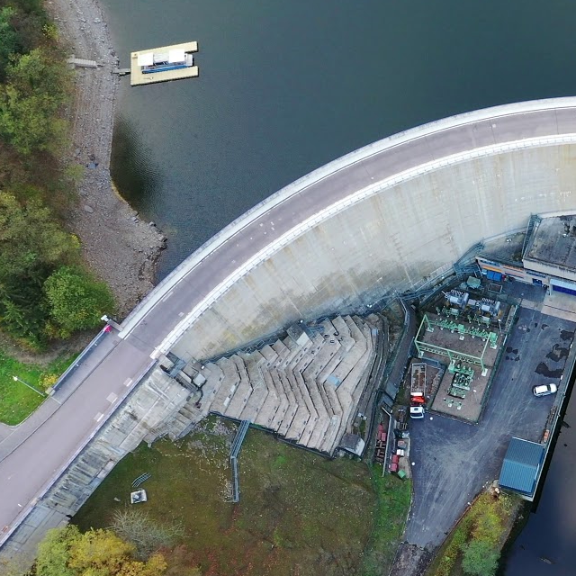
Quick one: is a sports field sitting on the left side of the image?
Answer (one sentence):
No, looking on the left side of the image, there is no sports field.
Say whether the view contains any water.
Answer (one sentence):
Yes, water shows up in the scene.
